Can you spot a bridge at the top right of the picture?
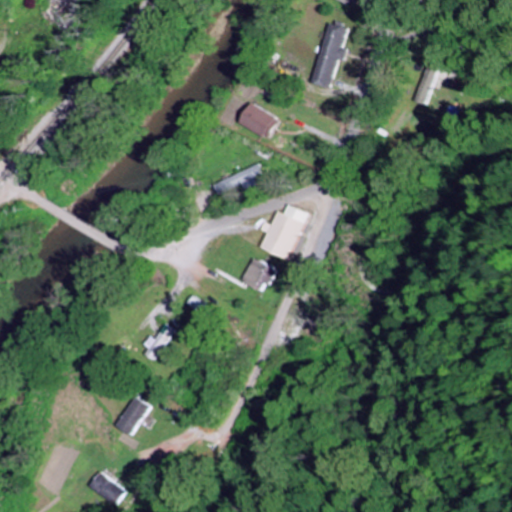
No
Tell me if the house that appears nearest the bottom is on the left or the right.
left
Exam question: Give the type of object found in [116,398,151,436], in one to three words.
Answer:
house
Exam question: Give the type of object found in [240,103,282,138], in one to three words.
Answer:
house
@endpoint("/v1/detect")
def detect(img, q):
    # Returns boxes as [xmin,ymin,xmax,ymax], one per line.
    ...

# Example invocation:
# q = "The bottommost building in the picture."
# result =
[91,468,129,505]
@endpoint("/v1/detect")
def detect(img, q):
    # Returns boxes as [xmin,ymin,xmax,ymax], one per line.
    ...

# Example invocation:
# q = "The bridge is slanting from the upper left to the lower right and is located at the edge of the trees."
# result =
[21,180,122,252]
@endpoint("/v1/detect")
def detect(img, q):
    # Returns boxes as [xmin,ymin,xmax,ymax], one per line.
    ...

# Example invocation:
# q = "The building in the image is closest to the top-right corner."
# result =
[414,68,452,106]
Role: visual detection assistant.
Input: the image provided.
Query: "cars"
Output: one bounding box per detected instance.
[206,294,218,304]
[335,80,348,89]
[254,220,266,230]
[206,268,217,276]
[413,60,422,73]
[294,120,306,129]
